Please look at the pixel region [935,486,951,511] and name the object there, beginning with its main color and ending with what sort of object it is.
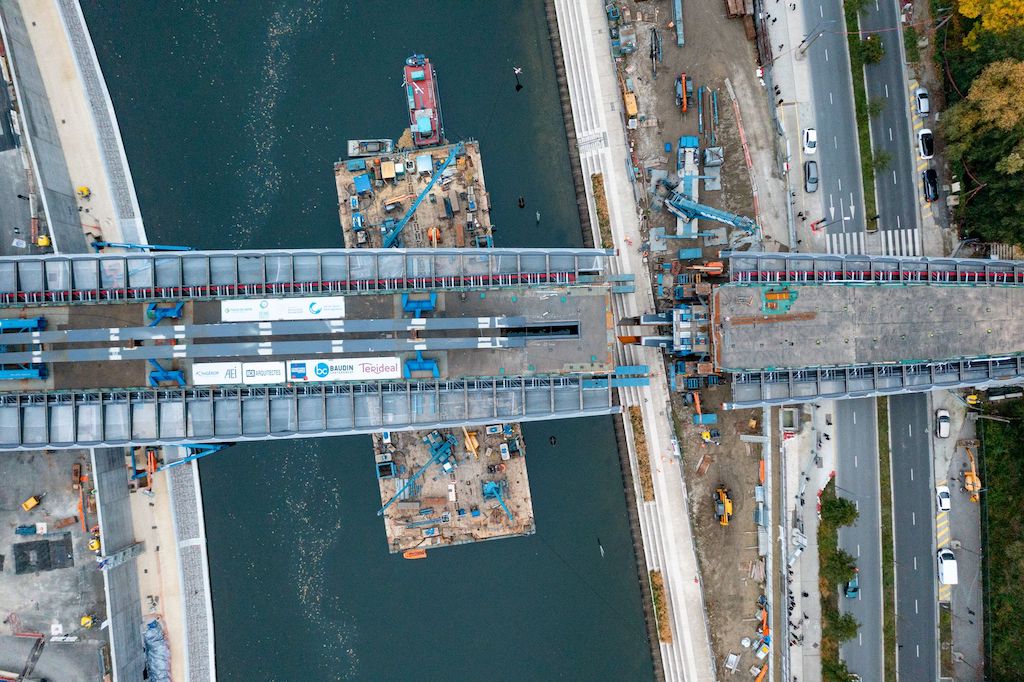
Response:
white car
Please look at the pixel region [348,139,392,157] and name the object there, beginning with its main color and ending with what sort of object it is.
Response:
gray boat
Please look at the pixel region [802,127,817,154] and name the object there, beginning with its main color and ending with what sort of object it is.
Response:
white car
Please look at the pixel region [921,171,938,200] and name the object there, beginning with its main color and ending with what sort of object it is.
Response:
black car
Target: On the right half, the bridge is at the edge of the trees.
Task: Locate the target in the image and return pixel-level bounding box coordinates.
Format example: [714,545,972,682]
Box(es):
[707,251,1024,411]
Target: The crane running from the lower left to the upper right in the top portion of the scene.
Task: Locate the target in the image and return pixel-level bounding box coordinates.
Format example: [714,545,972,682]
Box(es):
[373,140,465,247]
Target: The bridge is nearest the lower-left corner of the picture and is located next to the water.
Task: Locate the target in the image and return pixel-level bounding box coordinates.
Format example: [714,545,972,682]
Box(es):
[0,249,624,450]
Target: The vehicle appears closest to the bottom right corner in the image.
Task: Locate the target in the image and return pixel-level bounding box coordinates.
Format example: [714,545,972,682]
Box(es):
[937,548,958,586]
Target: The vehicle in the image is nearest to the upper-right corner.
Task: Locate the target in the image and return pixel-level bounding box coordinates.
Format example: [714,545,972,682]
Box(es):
[913,88,929,116]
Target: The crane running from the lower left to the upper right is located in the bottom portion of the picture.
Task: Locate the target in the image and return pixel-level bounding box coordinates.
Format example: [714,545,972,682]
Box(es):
[375,430,459,517]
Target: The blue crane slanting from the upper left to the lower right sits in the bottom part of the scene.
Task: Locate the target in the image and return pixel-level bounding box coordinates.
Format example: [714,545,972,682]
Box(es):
[479,478,515,523]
